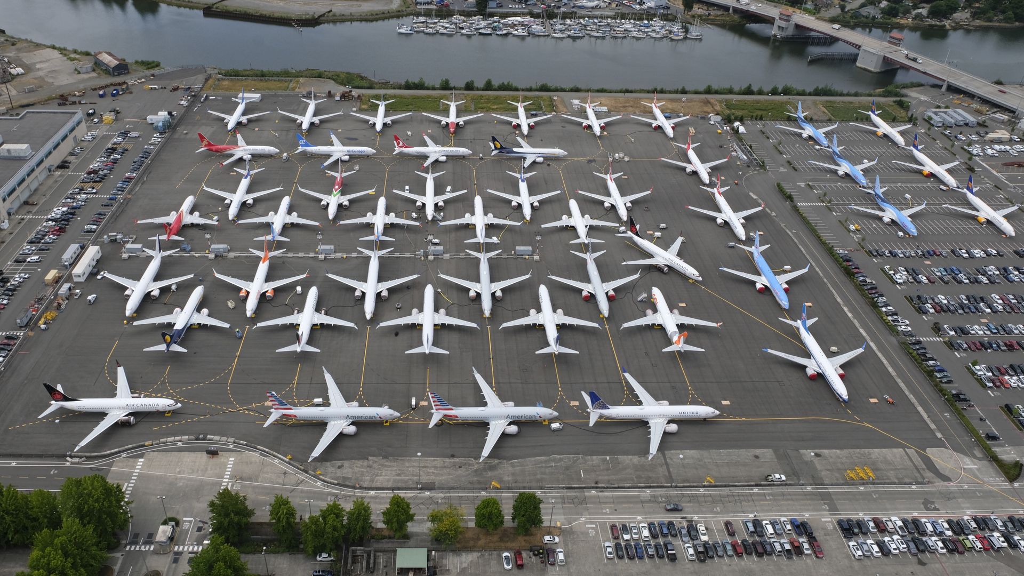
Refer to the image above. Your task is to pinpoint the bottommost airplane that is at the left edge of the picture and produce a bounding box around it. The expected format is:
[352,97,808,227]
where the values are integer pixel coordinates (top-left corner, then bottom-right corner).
[35,356,186,451]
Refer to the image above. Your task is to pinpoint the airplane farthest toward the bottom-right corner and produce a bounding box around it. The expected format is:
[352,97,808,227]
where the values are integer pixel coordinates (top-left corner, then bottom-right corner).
[764,304,868,403]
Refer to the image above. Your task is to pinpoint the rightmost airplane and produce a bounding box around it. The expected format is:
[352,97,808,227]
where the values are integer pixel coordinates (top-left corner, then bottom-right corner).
[943,173,1019,237]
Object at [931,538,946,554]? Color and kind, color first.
white car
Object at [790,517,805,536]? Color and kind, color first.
blue vehicle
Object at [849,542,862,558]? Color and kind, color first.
white vehicle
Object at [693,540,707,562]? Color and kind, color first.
gray vehicle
